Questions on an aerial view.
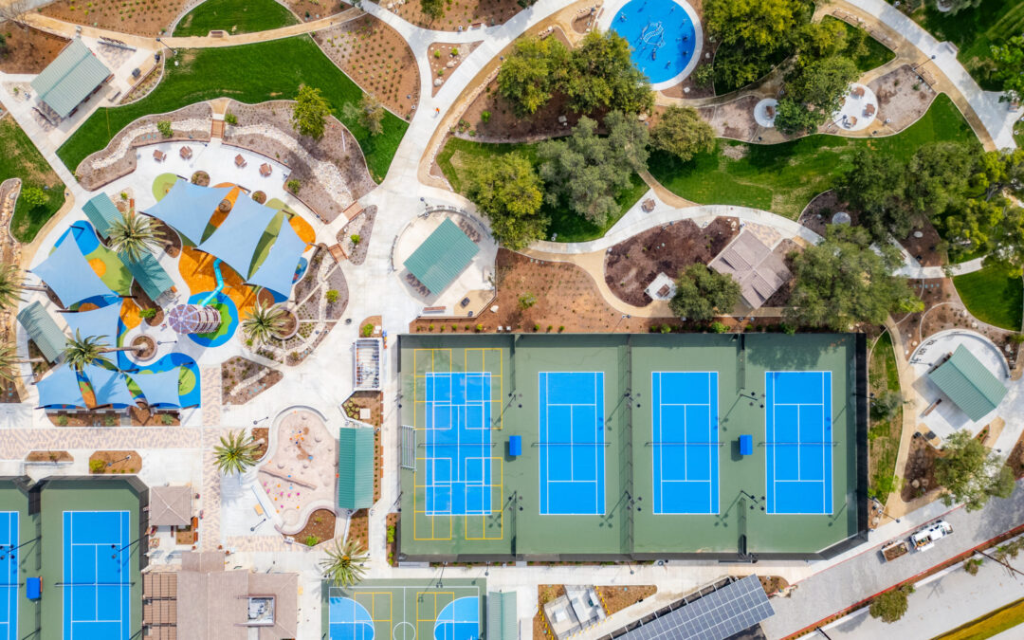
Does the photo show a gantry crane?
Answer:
No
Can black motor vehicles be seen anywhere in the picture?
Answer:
No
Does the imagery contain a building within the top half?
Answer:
Yes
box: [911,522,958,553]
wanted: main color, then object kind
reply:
white truck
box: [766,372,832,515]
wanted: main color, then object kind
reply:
blue tennis court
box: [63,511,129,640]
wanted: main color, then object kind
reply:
blue tennis court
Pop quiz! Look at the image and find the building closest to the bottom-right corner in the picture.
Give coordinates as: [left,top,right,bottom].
[924,343,1008,422]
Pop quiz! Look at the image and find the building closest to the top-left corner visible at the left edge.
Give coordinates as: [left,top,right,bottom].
[30,37,114,118]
